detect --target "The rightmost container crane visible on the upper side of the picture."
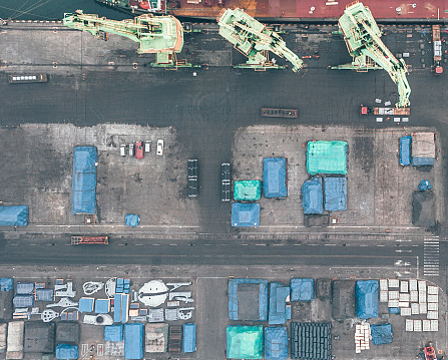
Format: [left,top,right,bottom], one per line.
[326,3,418,106]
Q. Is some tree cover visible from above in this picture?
No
